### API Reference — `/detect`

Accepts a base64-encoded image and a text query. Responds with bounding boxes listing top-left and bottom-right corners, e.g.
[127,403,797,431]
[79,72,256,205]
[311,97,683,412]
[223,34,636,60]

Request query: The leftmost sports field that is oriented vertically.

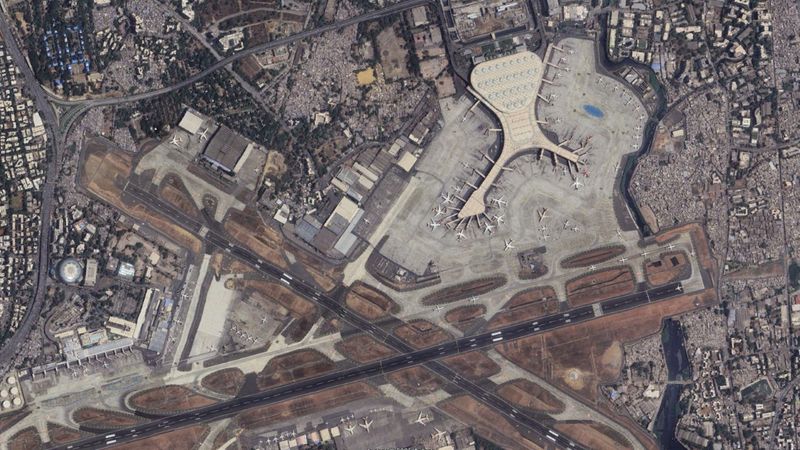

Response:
[380,27,407,80]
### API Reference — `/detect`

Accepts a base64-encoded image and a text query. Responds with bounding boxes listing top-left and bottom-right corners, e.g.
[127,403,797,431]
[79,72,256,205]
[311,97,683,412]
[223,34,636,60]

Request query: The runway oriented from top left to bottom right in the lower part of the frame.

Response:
[123,179,584,450]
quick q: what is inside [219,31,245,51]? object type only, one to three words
building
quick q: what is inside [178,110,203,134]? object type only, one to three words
hangar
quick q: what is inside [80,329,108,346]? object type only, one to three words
building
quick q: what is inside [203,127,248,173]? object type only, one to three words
hangar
